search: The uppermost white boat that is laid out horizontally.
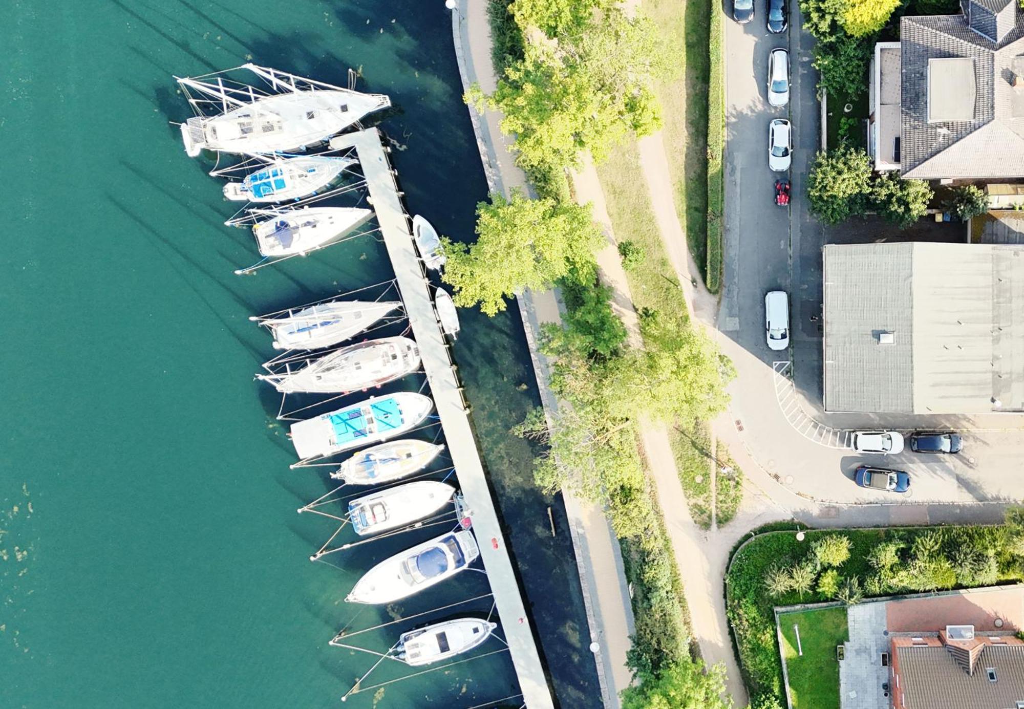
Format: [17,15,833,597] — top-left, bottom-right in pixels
[171,63,391,155]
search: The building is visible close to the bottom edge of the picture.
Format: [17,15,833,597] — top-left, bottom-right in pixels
[891,625,1024,709]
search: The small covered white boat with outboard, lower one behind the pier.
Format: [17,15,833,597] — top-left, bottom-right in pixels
[435,288,461,340]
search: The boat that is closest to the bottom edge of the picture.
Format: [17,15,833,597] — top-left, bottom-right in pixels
[391,617,497,666]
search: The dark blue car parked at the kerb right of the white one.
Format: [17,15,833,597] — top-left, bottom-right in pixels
[910,432,963,458]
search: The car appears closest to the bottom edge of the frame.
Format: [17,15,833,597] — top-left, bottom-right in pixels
[854,466,910,495]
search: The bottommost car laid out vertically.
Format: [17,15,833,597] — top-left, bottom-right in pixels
[764,292,792,350]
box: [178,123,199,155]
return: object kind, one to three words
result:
boat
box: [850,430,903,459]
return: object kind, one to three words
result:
car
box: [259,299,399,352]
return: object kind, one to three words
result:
boat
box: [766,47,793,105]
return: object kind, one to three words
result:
car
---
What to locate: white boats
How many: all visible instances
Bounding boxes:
[330,440,443,484]
[435,288,461,340]
[258,338,425,395]
[178,123,199,155]
[247,204,373,257]
[224,149,356,205]
[339,531,478,610]
[171,63,391,155]
[391,617,497,666]
[221,182,247,199]
[287,395,433,460]
[413,214,448,273]
[345,482,453,535]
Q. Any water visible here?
Yes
